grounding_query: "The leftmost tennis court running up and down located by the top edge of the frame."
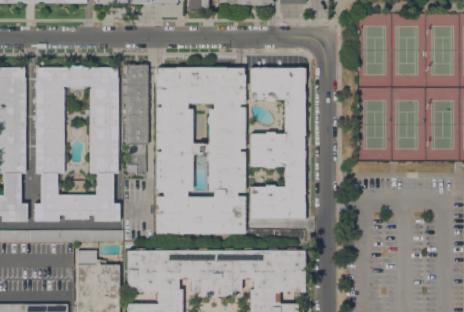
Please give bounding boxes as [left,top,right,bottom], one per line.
[360,12,392,86]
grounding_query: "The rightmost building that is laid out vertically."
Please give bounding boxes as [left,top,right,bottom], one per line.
[250,67,308,218]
